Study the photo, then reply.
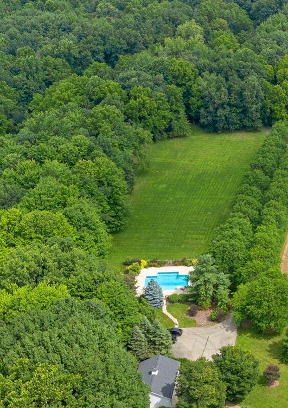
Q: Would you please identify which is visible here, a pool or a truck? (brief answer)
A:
pool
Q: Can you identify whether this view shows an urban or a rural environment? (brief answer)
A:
rural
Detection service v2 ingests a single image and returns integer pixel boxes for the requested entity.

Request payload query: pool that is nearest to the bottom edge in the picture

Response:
[134,264,194,300]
